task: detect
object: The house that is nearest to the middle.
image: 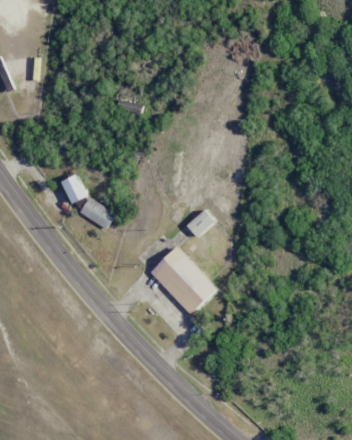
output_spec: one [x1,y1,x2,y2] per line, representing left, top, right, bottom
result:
[188,208,218,238]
